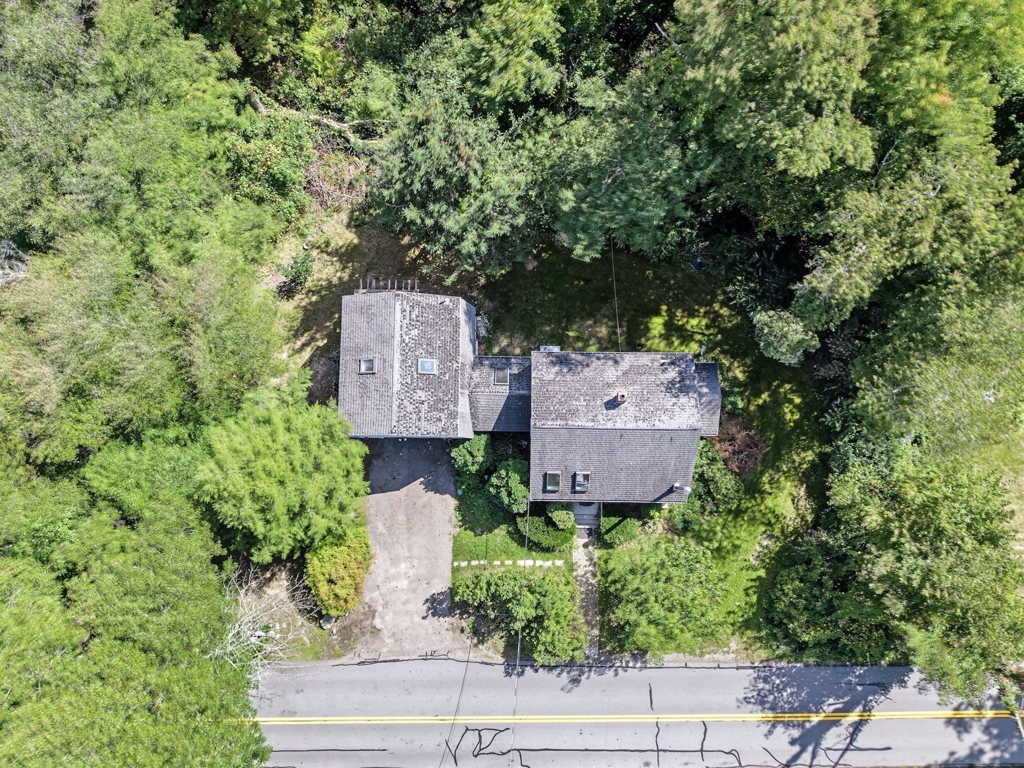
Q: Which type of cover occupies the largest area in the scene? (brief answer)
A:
trees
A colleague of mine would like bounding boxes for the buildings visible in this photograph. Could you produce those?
[338,291,478,441]
[528,350,721,504]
